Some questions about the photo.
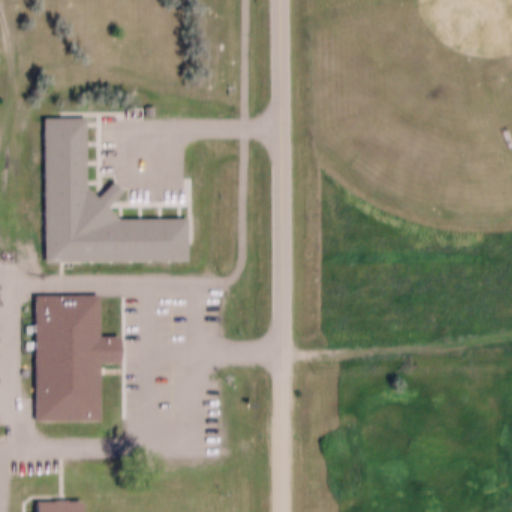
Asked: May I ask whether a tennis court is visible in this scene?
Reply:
No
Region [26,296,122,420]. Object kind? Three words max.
building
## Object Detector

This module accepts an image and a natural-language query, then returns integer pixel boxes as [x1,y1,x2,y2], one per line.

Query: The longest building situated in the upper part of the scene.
[46,118,188,262]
